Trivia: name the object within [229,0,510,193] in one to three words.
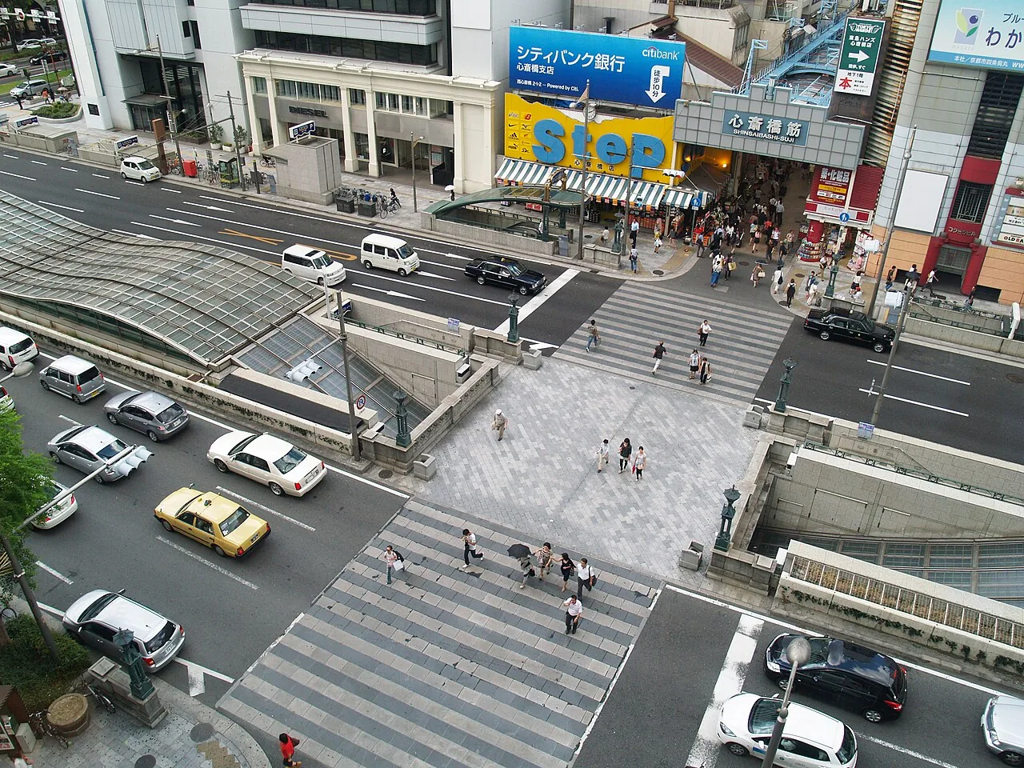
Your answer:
building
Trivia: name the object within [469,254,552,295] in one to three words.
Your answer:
car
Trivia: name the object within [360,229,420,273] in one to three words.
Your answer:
car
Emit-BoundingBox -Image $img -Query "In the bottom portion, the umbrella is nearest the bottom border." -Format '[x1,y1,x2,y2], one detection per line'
[494,544,528,568]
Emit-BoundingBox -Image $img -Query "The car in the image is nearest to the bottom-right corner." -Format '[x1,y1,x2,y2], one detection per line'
[976,695,1024,765]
